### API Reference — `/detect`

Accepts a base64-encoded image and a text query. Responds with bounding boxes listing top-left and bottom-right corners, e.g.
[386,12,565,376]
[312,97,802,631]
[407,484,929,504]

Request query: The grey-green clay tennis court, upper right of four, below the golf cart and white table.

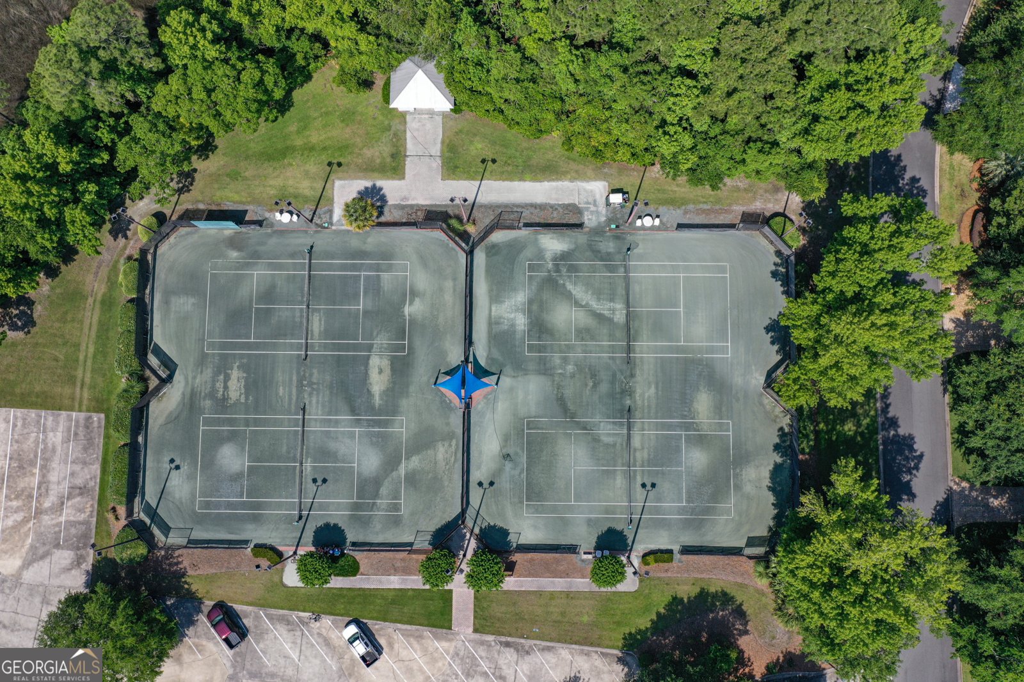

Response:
[466,230,789,389]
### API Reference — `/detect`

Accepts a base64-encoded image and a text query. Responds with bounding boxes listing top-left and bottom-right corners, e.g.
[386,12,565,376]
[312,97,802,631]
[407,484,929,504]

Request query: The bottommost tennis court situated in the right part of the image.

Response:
[463,386,794,556]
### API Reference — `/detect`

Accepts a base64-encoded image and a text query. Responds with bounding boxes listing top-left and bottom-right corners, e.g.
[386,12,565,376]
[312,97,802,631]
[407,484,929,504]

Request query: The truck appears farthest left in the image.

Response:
[207,604,246,653]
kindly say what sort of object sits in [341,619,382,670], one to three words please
truck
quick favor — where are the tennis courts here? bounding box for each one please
[466,230,789,389]
[463,386,794,556]
[138,382,465,551]
[148,228,468,386]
